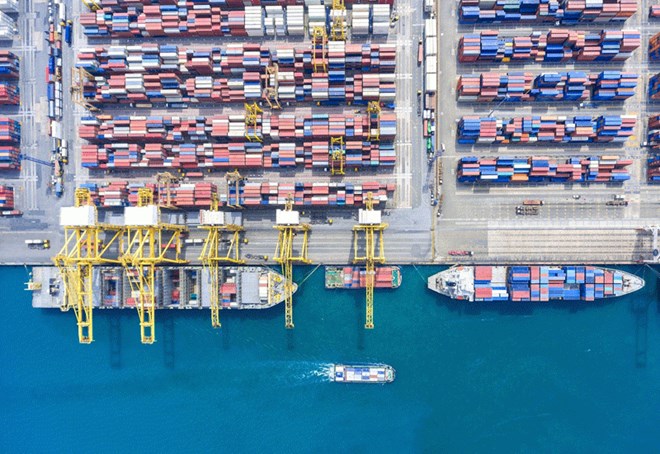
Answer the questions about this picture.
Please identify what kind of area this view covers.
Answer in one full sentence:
This image shows a port.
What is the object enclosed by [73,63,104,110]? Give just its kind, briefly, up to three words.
container crane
